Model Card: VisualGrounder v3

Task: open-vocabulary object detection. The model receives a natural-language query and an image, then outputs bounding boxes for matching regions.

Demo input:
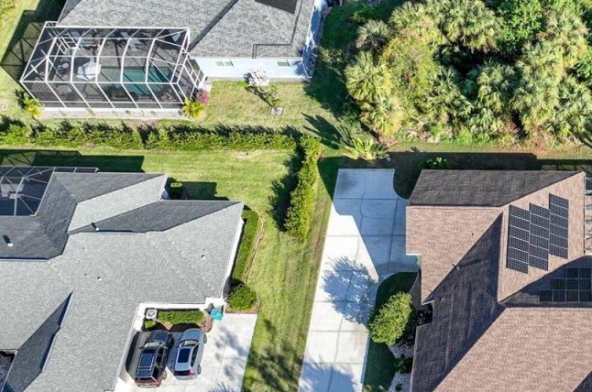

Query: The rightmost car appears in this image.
[167,328,211,385]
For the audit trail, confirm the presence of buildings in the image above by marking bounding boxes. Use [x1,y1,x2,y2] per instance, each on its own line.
[0,172,250,392]
[405,170,592,392]
[57,0,326,78]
